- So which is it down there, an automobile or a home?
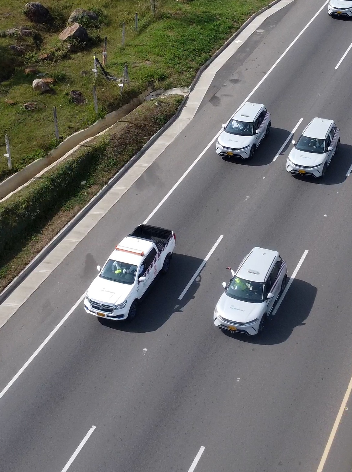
automobile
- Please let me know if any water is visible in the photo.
No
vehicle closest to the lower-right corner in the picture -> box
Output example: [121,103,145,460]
[215,247,287,340]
